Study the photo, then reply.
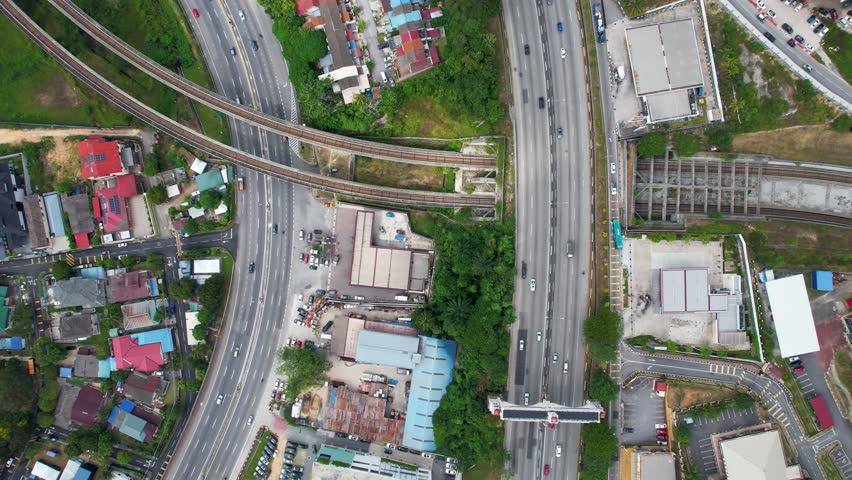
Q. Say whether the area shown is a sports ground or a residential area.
residential area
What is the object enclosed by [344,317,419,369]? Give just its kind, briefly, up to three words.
building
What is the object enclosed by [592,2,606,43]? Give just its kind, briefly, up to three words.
vehicle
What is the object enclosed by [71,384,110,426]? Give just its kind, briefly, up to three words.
house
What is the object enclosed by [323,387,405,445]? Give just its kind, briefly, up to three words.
shed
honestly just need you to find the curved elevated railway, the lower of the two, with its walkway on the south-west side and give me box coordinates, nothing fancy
[0,0,496,207]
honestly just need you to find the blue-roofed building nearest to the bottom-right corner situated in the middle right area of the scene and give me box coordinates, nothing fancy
[807,271,835,291]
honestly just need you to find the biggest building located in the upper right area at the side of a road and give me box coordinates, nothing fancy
[622,18,704,99]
